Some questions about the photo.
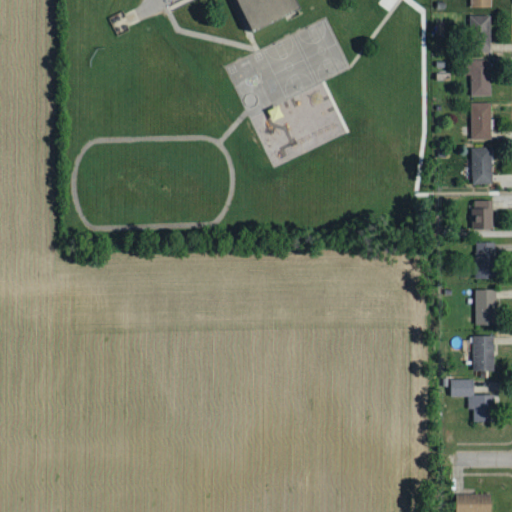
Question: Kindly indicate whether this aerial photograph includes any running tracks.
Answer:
Yes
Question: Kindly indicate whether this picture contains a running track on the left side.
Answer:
Yes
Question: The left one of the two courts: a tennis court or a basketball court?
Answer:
basketball court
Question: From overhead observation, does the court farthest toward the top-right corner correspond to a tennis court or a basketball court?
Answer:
basketball court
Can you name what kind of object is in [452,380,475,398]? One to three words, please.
building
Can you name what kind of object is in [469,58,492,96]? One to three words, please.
house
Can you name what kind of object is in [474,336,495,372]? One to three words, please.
house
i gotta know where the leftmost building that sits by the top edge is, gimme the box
[238,0,304,31]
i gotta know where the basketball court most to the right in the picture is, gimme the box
[296,20,348,81]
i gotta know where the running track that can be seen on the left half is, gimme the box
[72,134,235,232]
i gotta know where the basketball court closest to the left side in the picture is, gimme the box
[264,35,316,97]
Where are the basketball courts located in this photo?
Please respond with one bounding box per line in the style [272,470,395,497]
[264,35,316,97]
[296,20,348,81]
